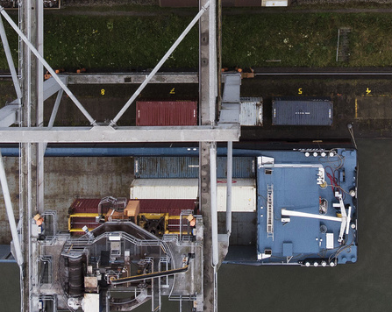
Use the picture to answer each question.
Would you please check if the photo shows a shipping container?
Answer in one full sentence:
Yes, looking at the shot, I can spot a shipping container.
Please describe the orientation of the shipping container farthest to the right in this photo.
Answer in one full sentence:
Seen from above, the shipping container farthest to the right lies from left to right.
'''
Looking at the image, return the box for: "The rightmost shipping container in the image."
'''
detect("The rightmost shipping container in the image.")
[272,96,333,125]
